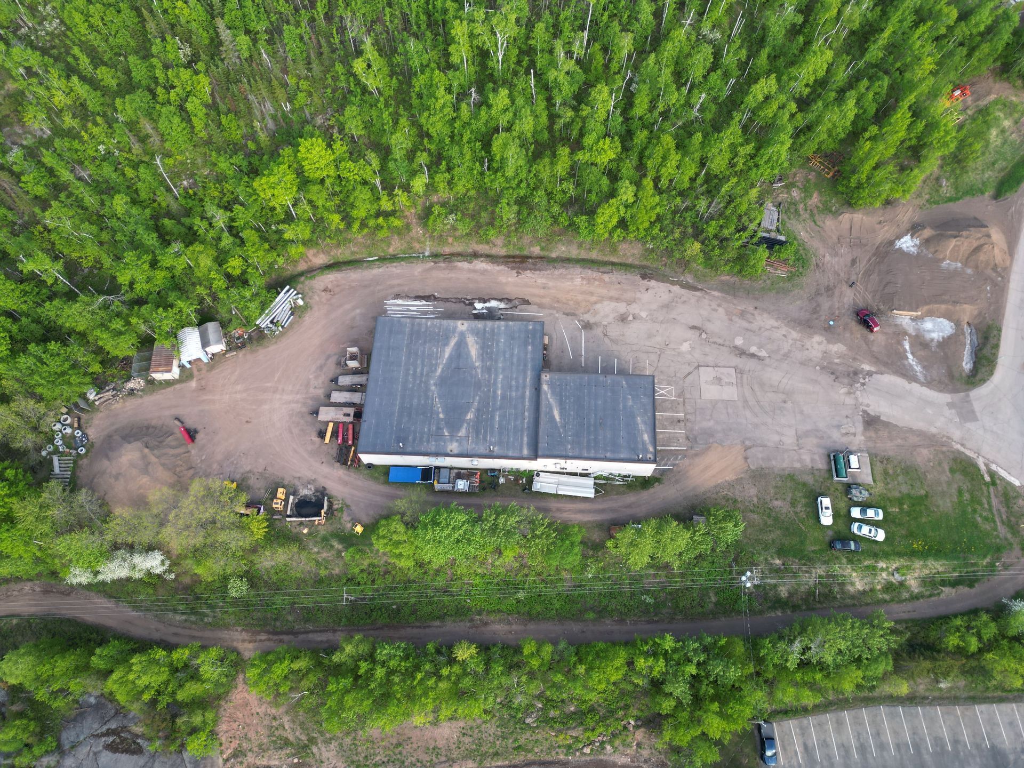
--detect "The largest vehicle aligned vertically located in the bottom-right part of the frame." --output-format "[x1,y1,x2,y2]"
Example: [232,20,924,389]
[758,723,781,764]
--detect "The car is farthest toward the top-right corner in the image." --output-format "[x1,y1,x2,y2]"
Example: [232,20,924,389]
[855,308,881,334]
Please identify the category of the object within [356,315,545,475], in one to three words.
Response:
building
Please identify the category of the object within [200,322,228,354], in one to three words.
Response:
shed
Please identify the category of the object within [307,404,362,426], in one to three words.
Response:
trailer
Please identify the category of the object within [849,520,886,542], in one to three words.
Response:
car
